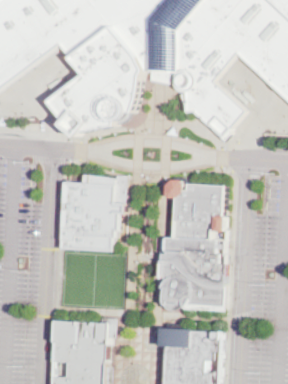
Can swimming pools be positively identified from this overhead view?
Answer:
No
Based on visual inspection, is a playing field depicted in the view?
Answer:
Yes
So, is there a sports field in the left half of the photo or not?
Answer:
Yes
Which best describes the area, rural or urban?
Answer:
urban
